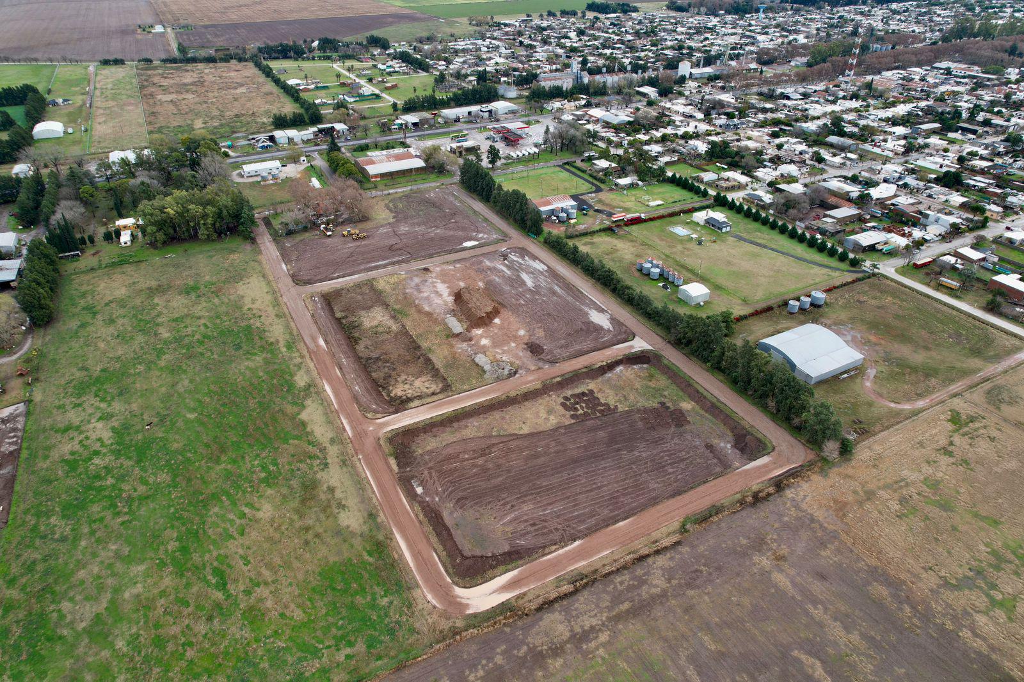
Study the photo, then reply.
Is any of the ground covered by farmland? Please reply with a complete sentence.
Yes, farmland shows up in the scene.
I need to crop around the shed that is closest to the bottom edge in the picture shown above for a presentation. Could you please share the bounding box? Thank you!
[760,324,864,384]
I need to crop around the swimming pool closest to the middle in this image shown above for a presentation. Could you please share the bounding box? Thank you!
[666,225,696,237]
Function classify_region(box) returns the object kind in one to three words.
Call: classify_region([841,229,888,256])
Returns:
shed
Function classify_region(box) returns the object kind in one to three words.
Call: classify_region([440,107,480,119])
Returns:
building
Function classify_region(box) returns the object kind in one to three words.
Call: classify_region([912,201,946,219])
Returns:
house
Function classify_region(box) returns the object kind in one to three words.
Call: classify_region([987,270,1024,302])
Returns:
building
